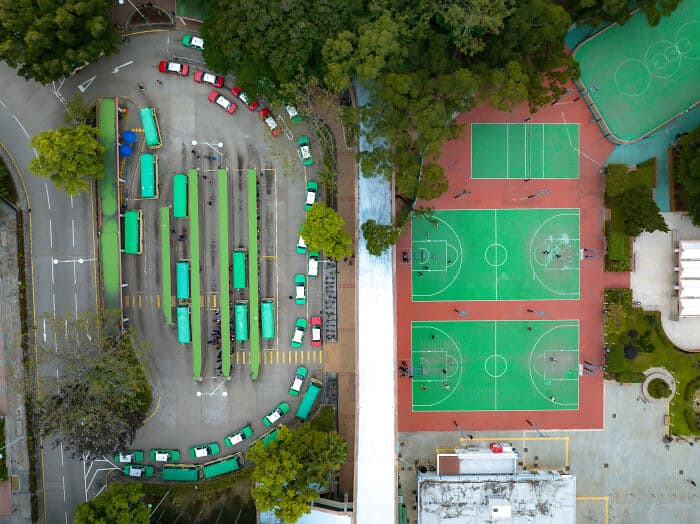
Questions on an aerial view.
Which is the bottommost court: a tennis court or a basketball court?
basketball court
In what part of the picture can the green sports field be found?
top right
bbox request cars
[125,462,155,477]
[209,92,238,115]
[150,448,180,463]
[195,71,225,88]
[291,318,306,348]
[296,225,308,255]
[116,449,146,463]
[299,137,314,166]
[224,424,254,447]
[190,441,221,458]
[280,97,304,126]
[232,87,260,112]
[262,401,291,426]
[308,251,320,279]
[289,366,308,397]
[260,108,282,137]
[160,61,190,77]
[294,275,306,304]
[310,316,323,346]
[306,182,318,211]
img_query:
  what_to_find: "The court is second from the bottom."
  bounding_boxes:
[412,208,580,301]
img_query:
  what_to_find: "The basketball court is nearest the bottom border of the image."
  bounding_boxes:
[412,320,580,411]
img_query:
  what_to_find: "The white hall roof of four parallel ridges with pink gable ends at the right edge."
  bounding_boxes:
[664,240,700,318]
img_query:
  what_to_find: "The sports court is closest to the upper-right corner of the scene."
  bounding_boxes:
[471,123,580,179]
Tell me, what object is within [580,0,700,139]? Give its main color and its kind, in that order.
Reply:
green sports field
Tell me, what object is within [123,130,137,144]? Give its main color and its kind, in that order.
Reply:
blue umbrella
